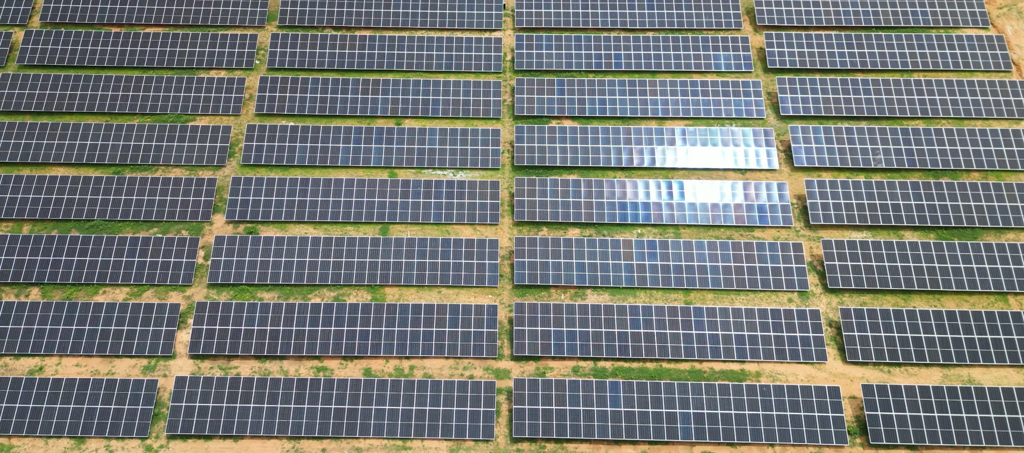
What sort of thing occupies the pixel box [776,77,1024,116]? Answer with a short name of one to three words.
solar array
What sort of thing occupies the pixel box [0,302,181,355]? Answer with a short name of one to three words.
solar array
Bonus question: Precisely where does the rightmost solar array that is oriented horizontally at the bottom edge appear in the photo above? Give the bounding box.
[861,384,1024,445]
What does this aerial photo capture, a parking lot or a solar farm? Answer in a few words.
solar farm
